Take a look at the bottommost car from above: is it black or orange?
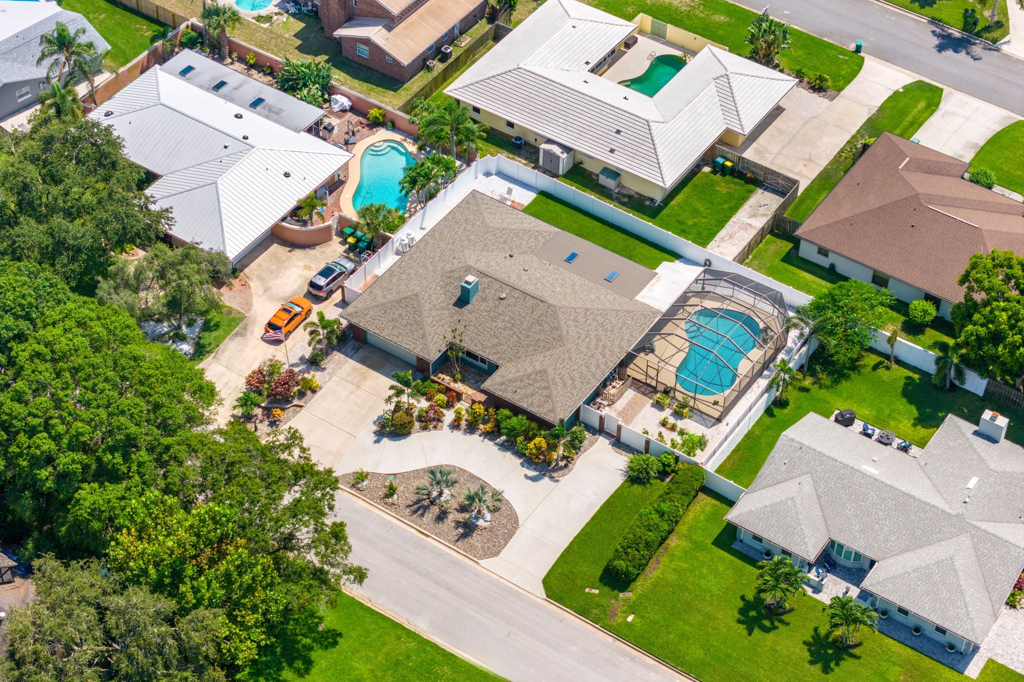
orange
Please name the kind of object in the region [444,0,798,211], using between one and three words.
house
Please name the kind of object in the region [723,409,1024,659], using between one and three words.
house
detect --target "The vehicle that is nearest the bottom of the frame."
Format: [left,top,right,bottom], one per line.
[262,292,316,338]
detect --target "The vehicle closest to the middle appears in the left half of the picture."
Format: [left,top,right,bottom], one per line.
[305,251,359,297]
